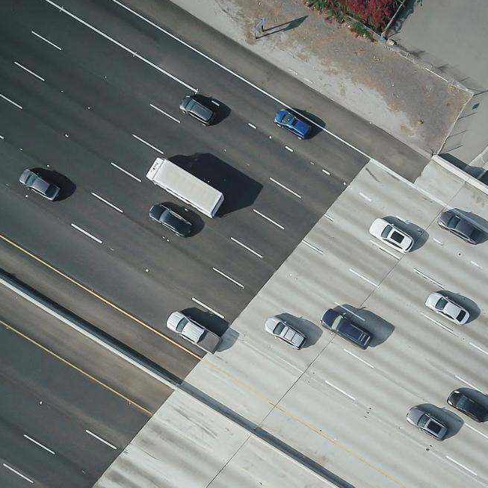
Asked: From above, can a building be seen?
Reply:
No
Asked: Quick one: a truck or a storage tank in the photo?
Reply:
truck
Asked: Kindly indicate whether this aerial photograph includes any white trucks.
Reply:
Yes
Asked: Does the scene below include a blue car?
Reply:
Yes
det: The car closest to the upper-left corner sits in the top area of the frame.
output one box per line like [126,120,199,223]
[19,169,62,202]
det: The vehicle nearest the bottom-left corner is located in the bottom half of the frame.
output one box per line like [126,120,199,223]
[166,312,223,355]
